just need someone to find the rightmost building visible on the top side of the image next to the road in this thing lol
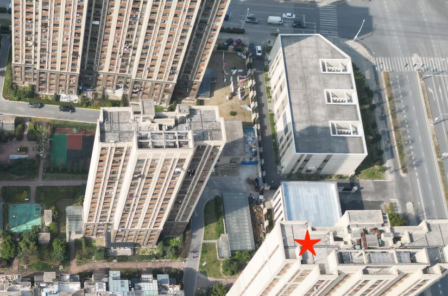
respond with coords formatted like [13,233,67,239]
[268,35,367,175]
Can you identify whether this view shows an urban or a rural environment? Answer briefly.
urban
